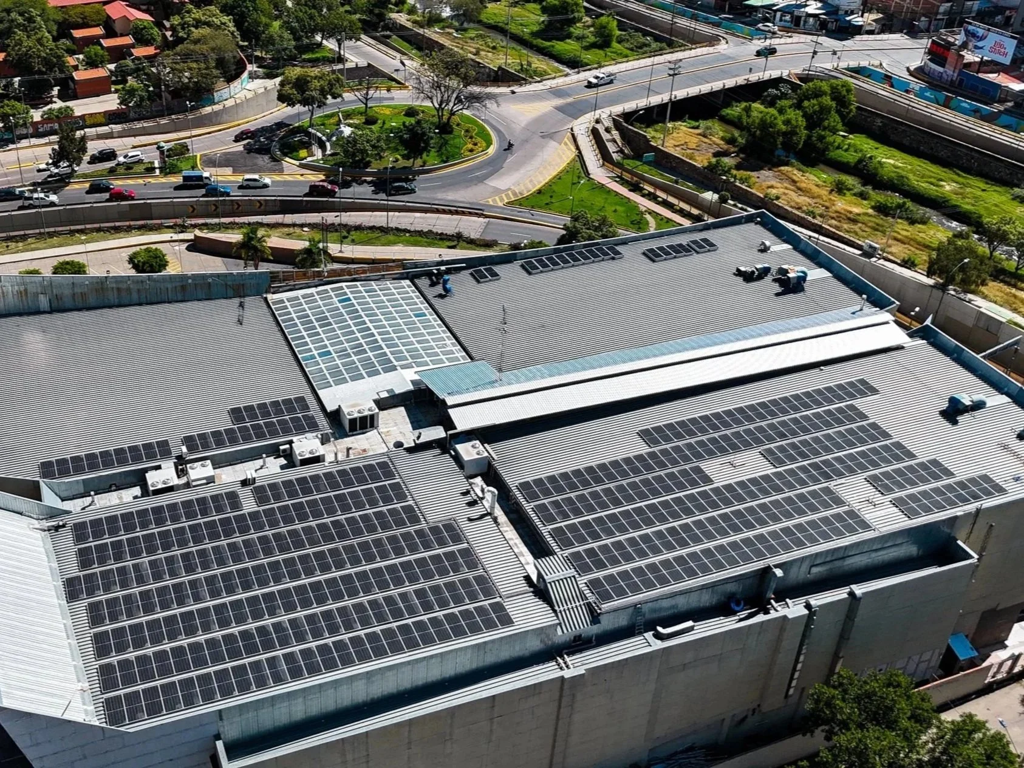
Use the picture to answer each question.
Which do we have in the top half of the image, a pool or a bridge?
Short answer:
bridge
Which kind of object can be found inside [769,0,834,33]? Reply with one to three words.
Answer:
building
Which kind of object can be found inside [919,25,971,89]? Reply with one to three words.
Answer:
building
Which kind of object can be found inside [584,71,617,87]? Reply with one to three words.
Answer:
vehicle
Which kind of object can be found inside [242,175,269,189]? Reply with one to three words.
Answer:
car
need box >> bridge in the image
[529,36,783,128]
